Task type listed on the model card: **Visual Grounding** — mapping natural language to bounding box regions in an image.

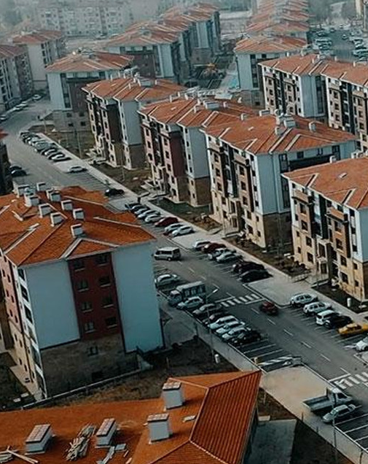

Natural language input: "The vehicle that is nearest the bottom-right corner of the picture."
[322,404,361,425]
